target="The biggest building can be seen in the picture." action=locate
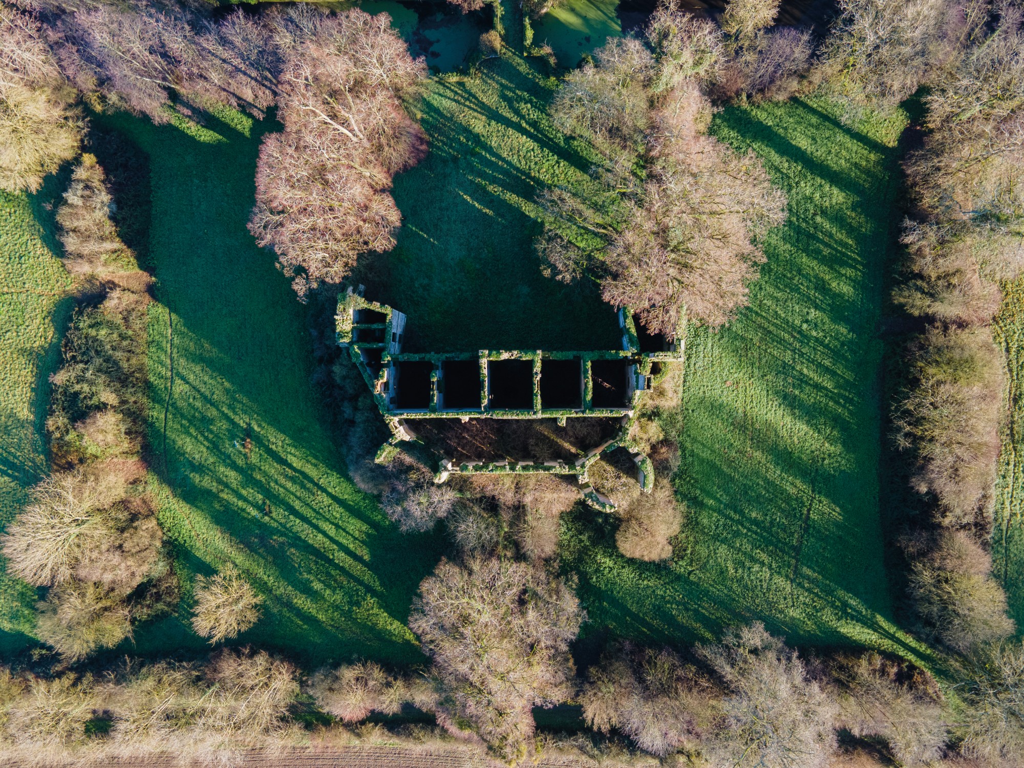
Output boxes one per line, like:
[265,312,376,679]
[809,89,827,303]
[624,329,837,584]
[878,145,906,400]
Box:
[332,284,687,515]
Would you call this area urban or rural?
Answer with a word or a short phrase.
rural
